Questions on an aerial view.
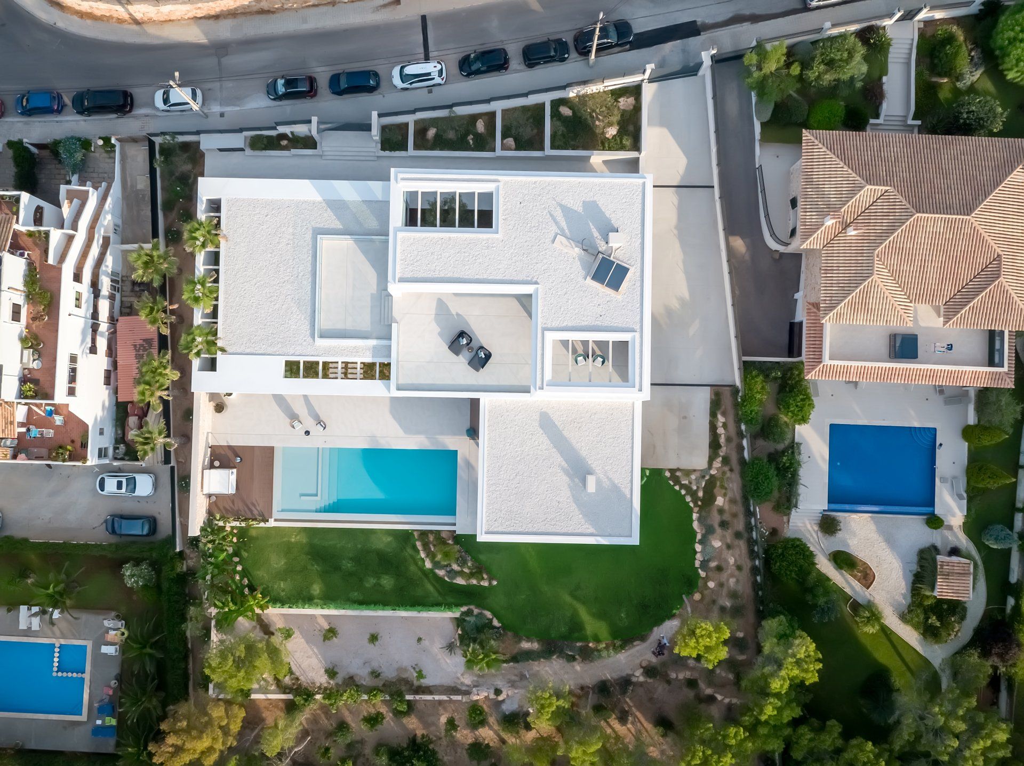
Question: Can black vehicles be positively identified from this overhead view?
Yes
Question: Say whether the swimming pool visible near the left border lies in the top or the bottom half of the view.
bottom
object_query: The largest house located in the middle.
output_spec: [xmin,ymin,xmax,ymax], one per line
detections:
[191,169,652,545]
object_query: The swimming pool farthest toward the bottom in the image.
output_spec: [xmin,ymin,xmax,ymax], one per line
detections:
[0,607,119,753]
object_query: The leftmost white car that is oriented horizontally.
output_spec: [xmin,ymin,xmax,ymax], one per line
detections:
[98,472,156,497]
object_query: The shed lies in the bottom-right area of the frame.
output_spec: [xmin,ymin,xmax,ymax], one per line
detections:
[924,554,973,602]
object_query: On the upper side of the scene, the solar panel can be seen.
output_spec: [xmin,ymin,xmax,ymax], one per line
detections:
[585,251,632,298]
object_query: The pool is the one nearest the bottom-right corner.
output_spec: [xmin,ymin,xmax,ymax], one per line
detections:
[822,420,941,524]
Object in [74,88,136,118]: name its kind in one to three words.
car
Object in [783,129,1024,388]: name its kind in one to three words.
house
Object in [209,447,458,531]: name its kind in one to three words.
swimming pool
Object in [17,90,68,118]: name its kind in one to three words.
car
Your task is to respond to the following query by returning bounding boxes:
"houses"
[783,129,1024,388]
[191,169,652,545]
[0,139,141,466]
